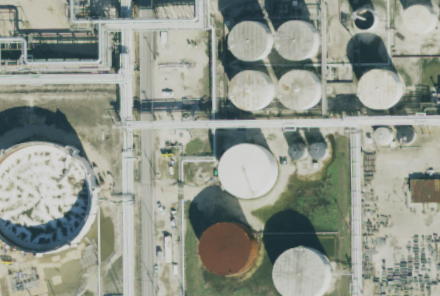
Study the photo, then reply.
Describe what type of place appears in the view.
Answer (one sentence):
This looks like an industrial area.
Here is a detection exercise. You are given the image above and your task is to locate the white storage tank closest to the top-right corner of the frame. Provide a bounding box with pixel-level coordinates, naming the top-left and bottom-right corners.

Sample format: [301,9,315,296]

[402,2,438,38]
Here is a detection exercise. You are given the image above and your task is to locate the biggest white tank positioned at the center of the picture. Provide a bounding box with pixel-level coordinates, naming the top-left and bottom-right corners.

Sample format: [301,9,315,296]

[216,144,277,200]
